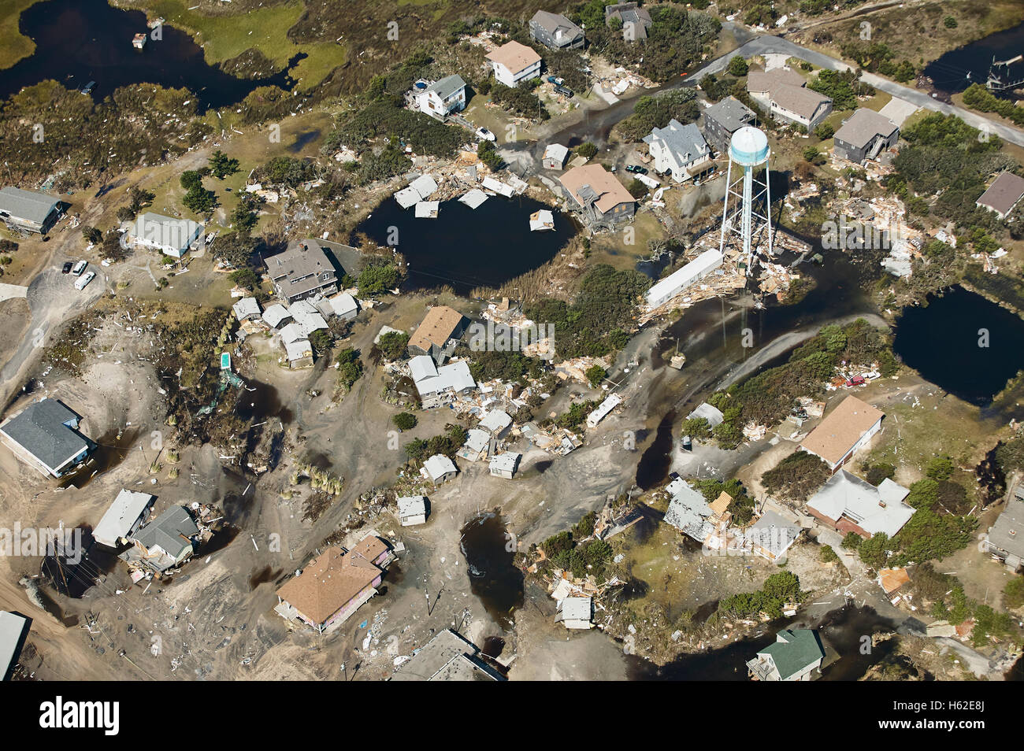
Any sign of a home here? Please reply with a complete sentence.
Yes, you can see a home in this photo.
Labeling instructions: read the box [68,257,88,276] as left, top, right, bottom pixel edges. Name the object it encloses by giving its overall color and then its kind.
white car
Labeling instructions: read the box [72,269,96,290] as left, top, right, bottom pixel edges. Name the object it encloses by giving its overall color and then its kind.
white vehicle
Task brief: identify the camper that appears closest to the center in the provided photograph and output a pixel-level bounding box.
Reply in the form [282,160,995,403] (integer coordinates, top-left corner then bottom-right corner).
[586,387,626,428]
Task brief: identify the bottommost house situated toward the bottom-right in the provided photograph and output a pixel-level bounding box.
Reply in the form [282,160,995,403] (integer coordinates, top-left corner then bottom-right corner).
[746,629,823,698]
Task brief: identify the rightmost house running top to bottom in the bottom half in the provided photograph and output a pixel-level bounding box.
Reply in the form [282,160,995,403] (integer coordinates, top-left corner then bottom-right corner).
[983,486,1024,568]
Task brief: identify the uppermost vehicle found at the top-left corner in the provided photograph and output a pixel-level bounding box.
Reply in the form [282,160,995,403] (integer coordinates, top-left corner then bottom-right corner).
[80,76,98,94]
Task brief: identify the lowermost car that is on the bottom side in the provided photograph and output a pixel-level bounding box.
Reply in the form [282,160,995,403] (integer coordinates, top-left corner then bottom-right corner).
[661,467,684,484]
